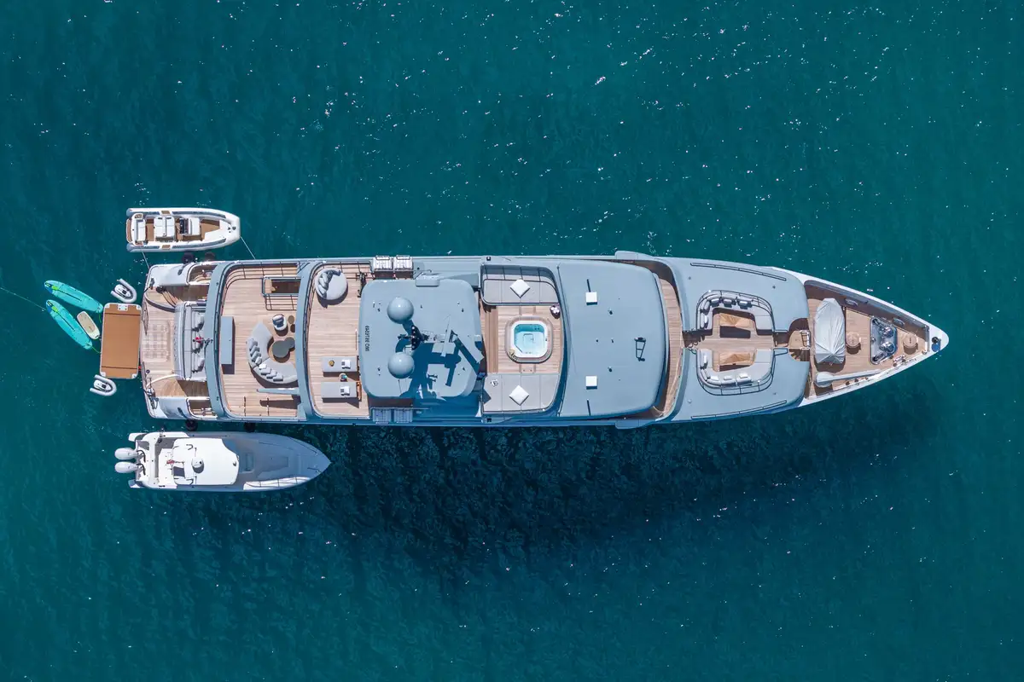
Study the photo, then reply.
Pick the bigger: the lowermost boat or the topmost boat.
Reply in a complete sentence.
Compared with the topmost boat, the lowermost boat is the bigger one.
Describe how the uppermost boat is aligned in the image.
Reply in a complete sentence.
The uppermost boat has been laid out horizontally relative to the frame.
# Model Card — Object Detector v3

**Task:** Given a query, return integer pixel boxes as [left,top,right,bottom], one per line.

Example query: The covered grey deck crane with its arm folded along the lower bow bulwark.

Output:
[813,369,880,385]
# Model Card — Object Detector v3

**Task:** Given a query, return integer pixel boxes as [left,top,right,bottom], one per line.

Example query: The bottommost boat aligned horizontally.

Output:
[114,429,331,492]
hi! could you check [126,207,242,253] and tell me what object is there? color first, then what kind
white boat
